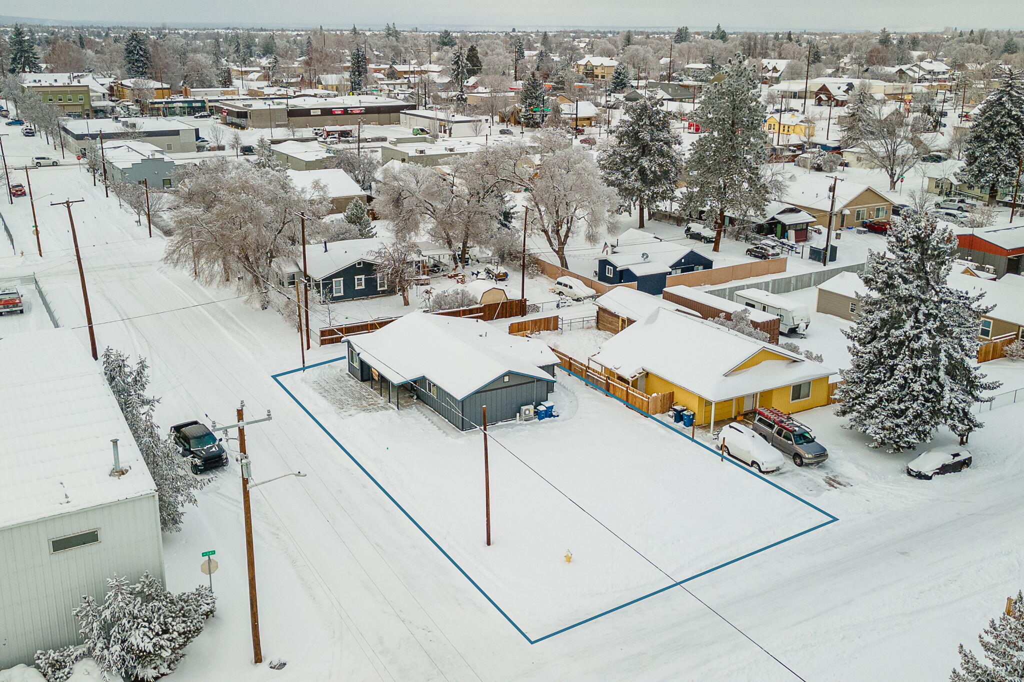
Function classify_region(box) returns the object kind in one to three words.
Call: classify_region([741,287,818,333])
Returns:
vehicle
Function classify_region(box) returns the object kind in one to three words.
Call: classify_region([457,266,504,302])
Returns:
shed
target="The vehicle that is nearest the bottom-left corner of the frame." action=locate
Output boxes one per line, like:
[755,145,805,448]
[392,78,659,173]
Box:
[173,420,230,469]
